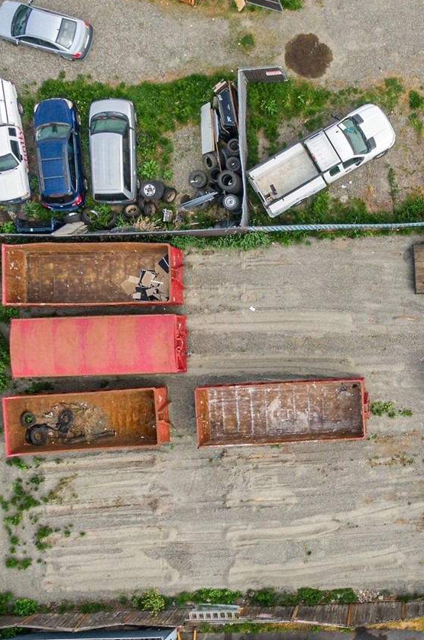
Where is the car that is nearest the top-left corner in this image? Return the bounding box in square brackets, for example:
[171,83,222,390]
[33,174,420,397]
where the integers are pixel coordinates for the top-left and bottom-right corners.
[0,0,96,62]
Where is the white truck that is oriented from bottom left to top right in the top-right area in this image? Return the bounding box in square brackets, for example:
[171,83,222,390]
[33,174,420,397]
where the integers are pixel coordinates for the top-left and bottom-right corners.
[248,105,394,219]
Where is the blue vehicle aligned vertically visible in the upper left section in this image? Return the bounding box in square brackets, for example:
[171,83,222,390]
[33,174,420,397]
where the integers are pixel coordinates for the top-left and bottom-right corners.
[27,99,90,211]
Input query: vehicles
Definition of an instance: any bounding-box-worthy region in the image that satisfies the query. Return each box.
[248,105,394,219]
[0,0,96,62]
[82,100,142,205]
[27,99,90,211]
[0,79,35,203]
